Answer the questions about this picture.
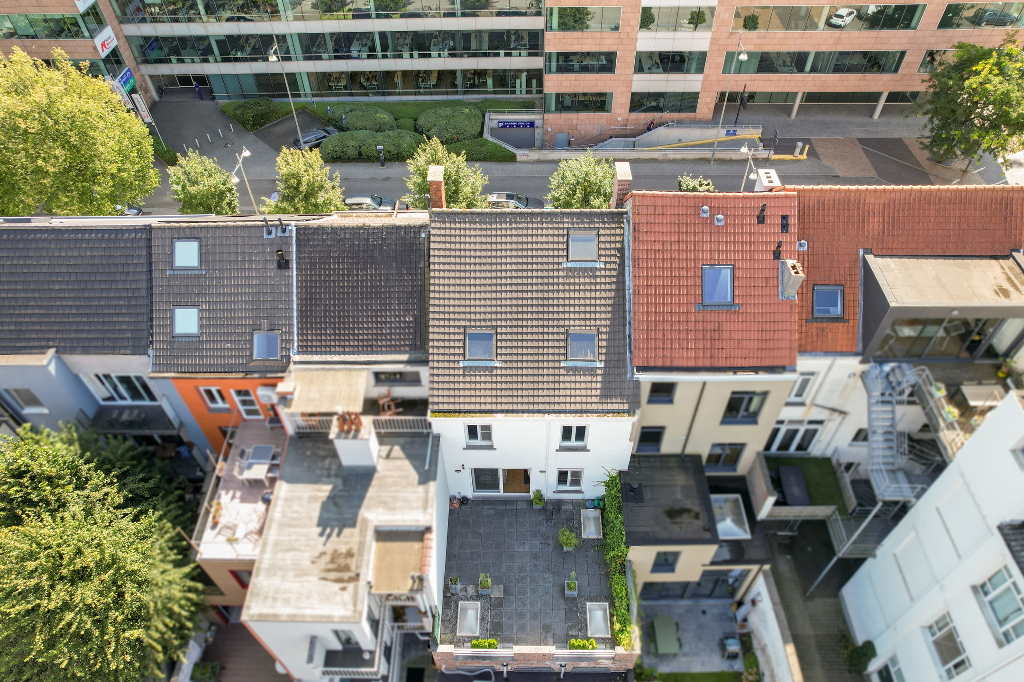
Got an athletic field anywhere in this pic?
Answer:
No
